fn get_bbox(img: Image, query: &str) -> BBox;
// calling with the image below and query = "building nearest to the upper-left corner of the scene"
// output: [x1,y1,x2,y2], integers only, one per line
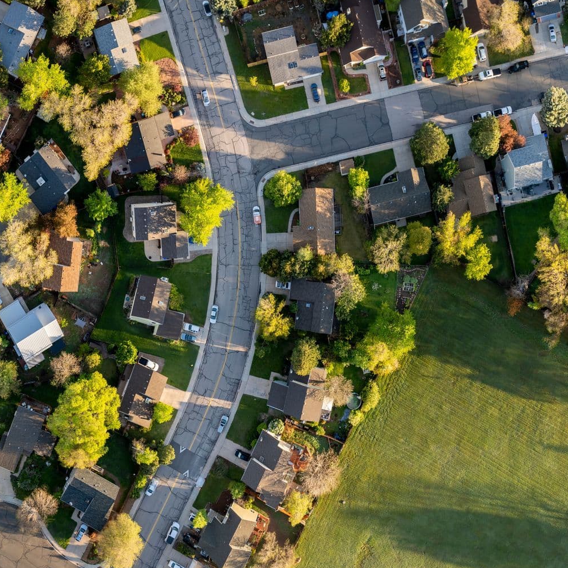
[0,4,45,81]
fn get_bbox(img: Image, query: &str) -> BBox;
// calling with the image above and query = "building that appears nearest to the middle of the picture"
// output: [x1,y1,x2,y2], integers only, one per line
[288,278,335,334]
